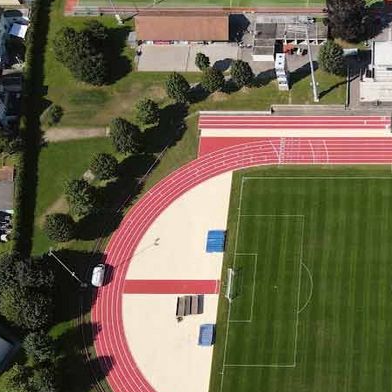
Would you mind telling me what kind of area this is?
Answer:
sports ground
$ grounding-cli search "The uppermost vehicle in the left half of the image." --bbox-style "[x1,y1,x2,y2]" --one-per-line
[91,265,109,287]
